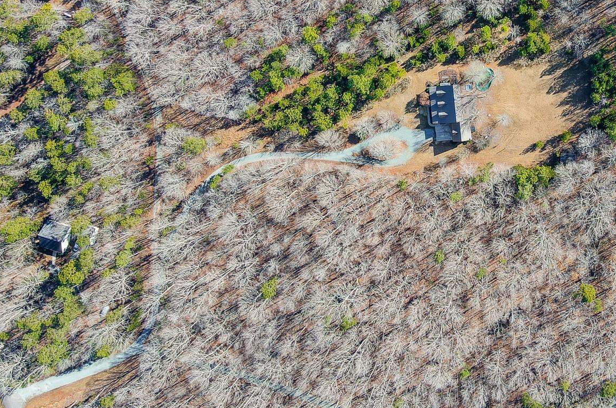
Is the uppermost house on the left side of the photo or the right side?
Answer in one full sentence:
It is on the right.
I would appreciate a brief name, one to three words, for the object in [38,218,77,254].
house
